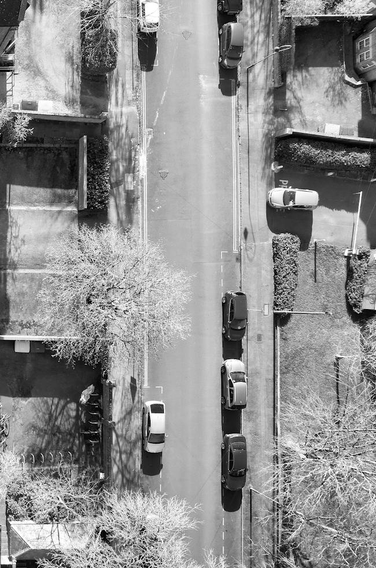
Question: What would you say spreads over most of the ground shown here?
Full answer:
The bulk of the photo consists of paved ground.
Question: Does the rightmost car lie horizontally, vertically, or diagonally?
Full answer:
The rightmost car has been laid out horizontally relative to the frame.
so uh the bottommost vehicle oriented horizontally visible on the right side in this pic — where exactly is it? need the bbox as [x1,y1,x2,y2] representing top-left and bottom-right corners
[266,187,321,212]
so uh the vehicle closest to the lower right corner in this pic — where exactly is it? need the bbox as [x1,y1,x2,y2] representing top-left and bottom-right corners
[221,435,247,488]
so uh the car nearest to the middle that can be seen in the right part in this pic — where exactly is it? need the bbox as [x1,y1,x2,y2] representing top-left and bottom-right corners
[221,293,249,340]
